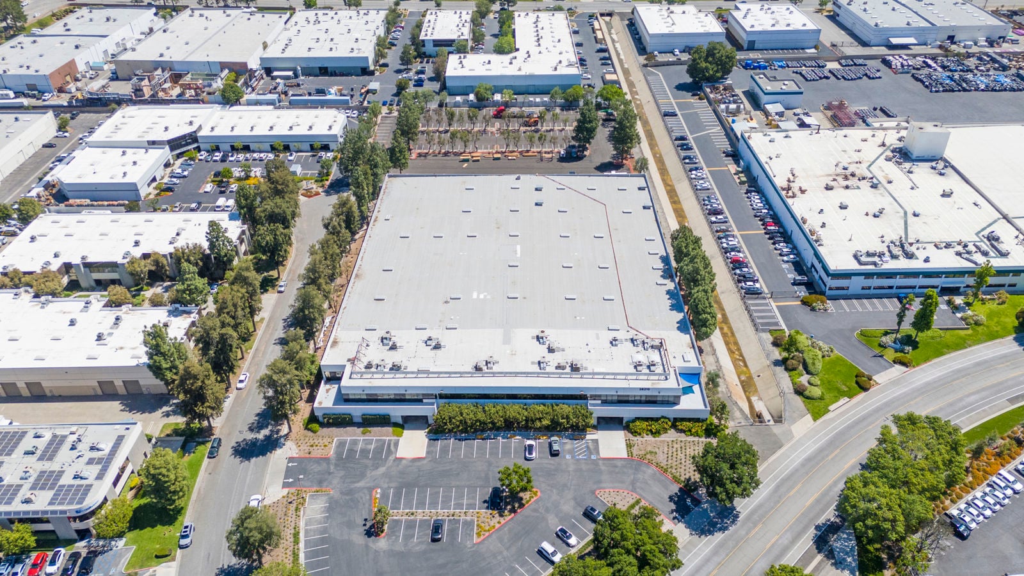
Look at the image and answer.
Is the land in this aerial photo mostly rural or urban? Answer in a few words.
urban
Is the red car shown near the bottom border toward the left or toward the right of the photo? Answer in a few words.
left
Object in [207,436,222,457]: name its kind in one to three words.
car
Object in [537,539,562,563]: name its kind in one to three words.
car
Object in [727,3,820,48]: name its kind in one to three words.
building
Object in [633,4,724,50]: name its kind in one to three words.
building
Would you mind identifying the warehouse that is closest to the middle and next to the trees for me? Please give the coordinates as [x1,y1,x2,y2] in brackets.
[314,174,709,426]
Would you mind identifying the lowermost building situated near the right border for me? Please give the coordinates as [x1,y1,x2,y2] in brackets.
[738,126,1024,298]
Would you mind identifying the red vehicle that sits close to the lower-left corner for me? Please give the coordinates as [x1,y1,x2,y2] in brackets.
[28,550,48,576]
